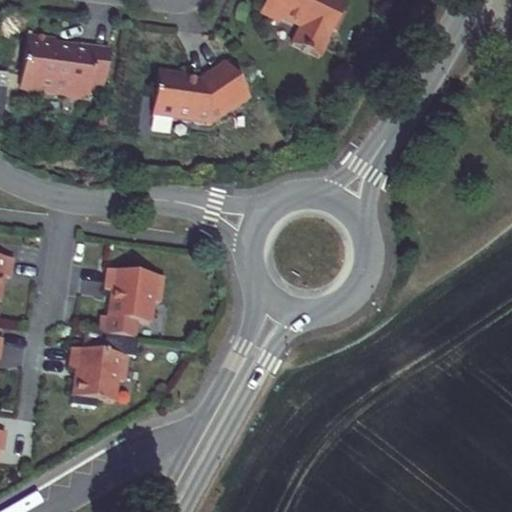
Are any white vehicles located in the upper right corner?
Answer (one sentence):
No, there is no white vehicle in the upper right corner.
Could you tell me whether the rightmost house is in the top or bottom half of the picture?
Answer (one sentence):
The top half of the photo is where the rightmost house is.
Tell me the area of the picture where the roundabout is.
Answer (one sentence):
The roundabout sits in the center section of the image.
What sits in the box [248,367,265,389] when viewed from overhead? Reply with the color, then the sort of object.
white car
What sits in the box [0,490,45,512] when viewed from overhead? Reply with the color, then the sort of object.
white bus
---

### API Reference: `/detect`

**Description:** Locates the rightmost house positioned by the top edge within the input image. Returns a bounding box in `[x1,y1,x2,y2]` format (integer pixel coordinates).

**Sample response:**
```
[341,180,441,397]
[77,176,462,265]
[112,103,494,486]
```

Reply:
[262,0,348,58]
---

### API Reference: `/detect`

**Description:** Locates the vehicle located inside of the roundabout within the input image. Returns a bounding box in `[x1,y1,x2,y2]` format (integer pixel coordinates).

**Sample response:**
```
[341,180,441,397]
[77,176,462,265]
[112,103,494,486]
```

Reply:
[290,314,312,332]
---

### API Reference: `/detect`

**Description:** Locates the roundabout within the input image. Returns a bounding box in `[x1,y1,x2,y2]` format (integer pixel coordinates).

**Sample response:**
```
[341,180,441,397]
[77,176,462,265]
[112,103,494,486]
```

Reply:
[230,180,384,334]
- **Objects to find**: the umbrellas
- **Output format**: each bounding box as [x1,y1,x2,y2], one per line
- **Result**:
[144,352,154,362]
[174,124,186,136]
[276,30,286,40]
